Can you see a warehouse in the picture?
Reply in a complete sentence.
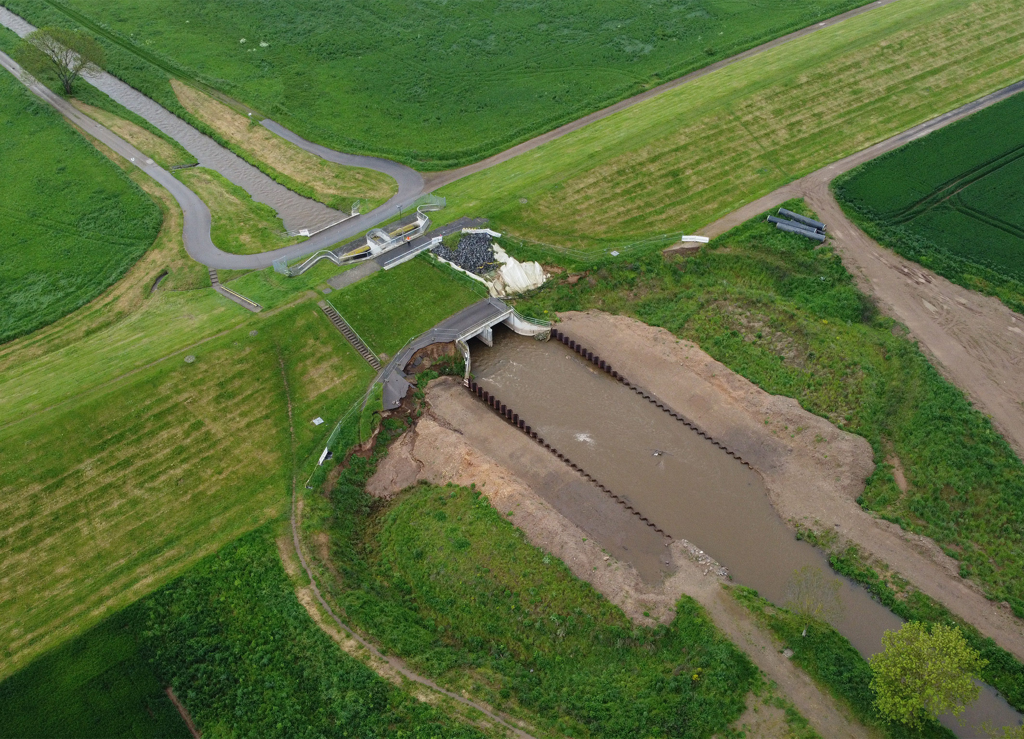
No, the picture doesn't show any warehouse.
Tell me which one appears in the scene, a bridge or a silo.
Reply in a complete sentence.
It is a bridge that can be seen here.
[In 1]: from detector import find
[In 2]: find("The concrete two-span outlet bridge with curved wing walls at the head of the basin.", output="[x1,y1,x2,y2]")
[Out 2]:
[446,295,551,389]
